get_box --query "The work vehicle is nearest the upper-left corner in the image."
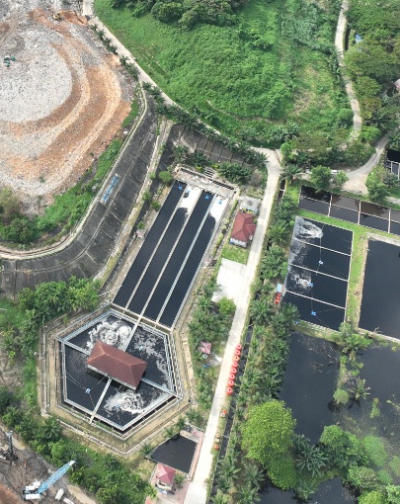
[51,5,82,19]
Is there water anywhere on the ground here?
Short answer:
Yes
